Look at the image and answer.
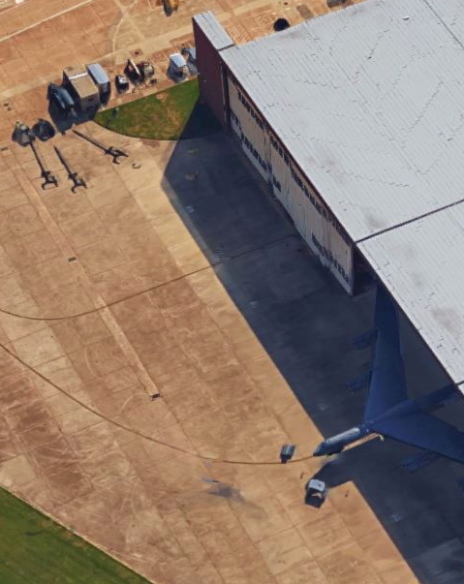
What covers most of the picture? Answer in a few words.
paved ground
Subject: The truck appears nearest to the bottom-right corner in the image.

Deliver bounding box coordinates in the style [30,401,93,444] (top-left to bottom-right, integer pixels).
[303,475,330,507]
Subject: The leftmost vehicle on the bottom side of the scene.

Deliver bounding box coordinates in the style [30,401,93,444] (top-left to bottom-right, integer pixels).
[280,440,297,464]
